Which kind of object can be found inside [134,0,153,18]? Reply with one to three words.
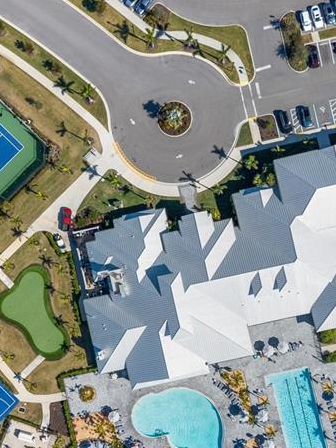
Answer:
car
